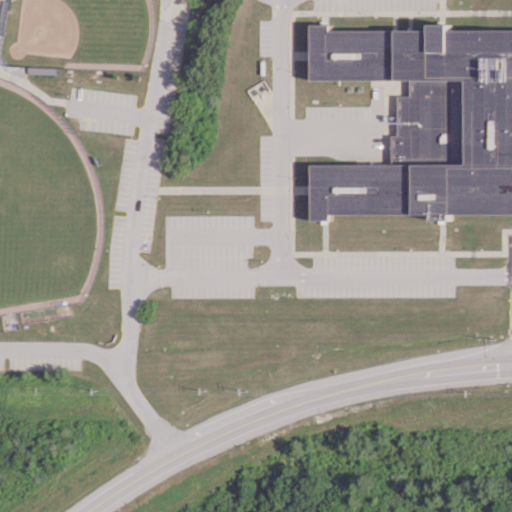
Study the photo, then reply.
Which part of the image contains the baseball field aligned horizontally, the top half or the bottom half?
top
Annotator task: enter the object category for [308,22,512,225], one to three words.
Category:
building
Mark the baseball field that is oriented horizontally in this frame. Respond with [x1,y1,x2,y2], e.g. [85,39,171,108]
[10,0,155,70]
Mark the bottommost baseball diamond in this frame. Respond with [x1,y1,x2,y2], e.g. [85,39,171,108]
[0,78,104,316]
